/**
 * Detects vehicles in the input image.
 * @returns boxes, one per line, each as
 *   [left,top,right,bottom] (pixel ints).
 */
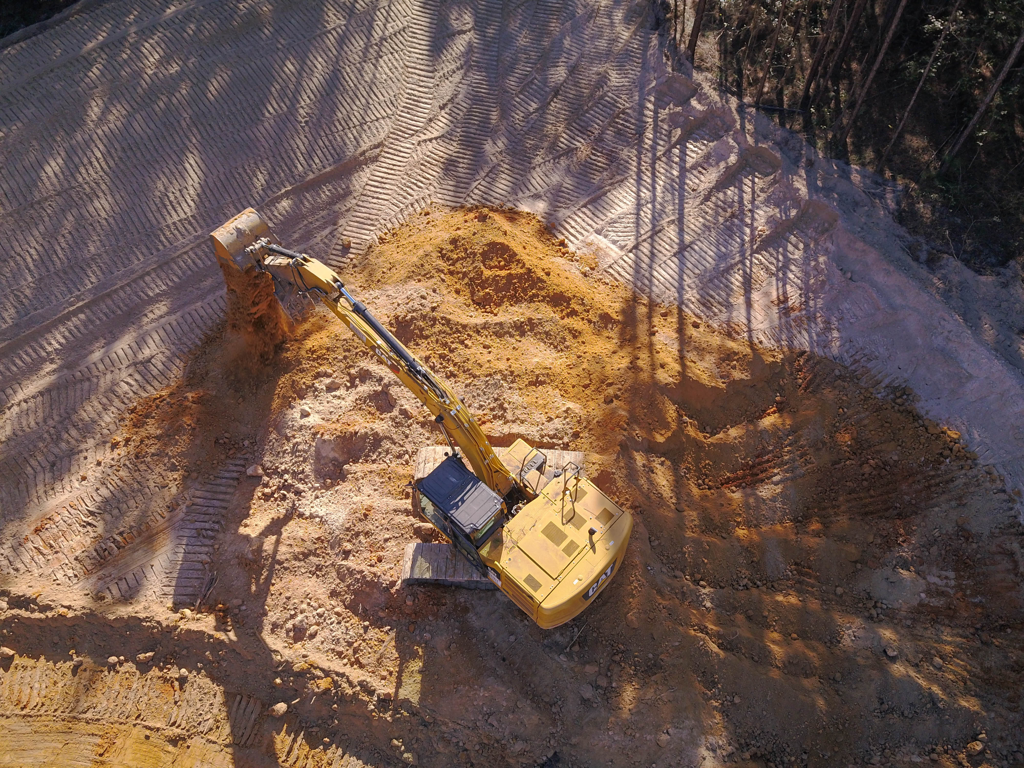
[209,205,633,628]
